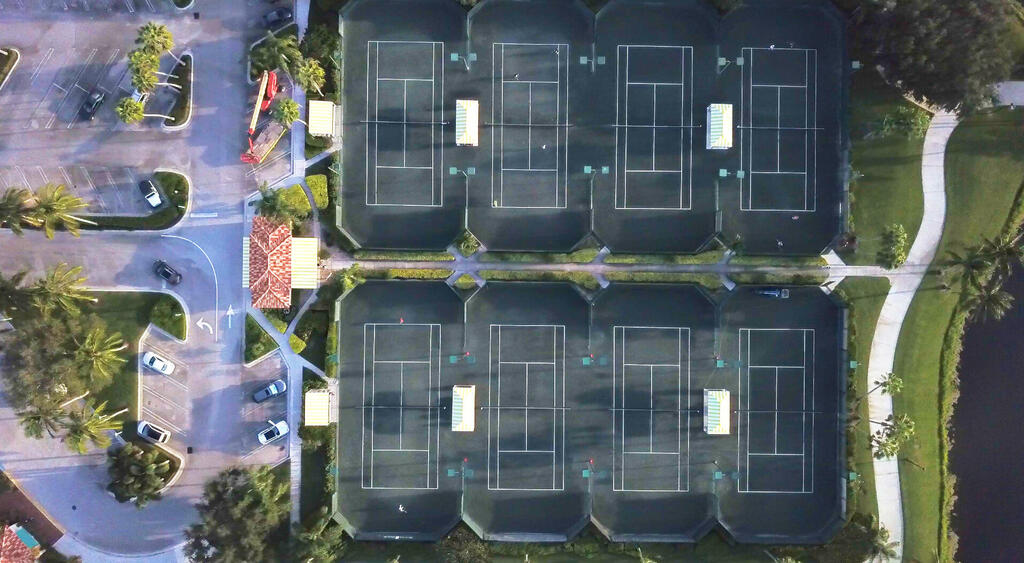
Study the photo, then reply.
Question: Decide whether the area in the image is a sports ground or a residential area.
sports ground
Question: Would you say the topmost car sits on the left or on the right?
left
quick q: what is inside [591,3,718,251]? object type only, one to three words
tennis court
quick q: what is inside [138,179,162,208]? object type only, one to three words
car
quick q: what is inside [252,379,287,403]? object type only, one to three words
car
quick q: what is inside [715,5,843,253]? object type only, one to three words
tennis court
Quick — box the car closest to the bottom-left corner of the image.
[138,421,172,445]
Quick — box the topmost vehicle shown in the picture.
[260,7,294,28]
